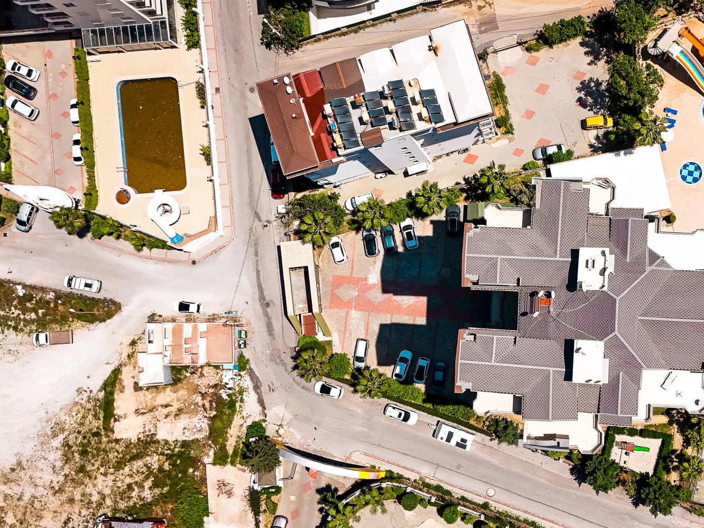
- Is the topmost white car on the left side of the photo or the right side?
left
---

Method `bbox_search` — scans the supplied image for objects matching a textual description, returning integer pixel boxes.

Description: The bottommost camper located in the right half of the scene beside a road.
[429,422,477,451]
